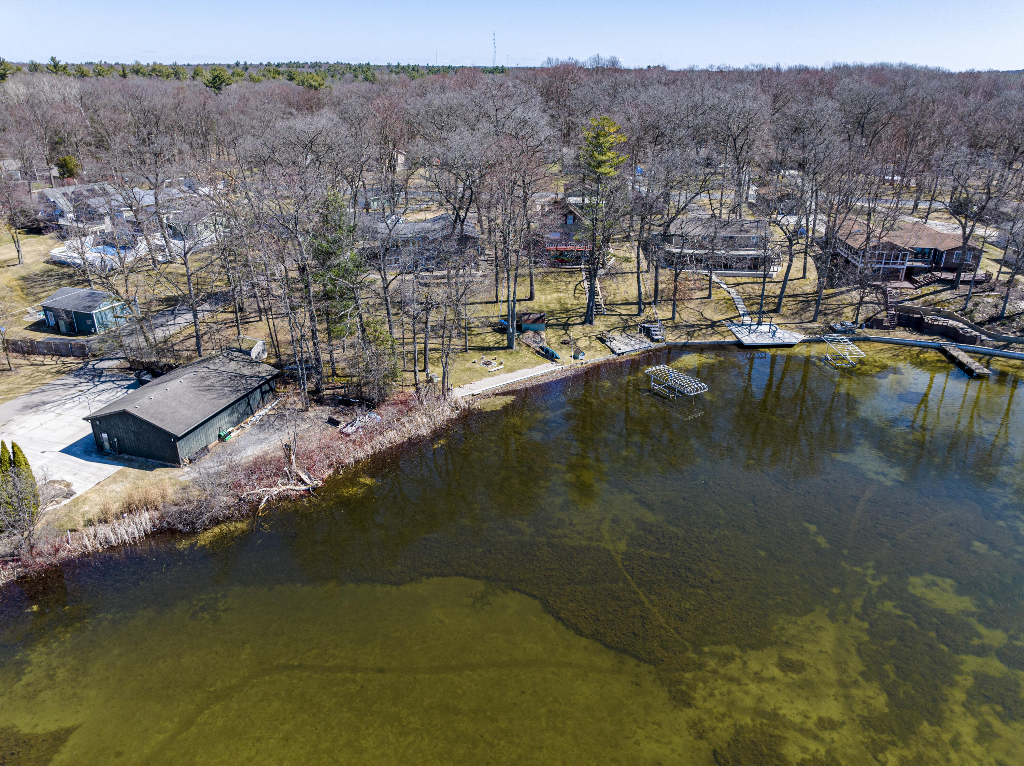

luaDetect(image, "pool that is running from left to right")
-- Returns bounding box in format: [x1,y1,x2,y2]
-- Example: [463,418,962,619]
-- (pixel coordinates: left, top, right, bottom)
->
[34,239,150,269]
